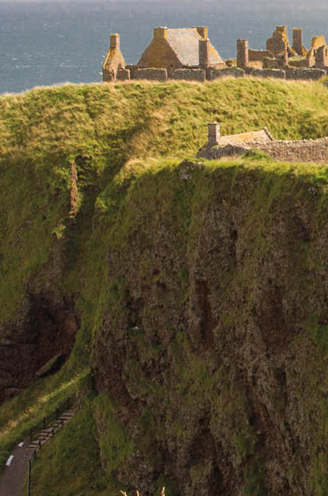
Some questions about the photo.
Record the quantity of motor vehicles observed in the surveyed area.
0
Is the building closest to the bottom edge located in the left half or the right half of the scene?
right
